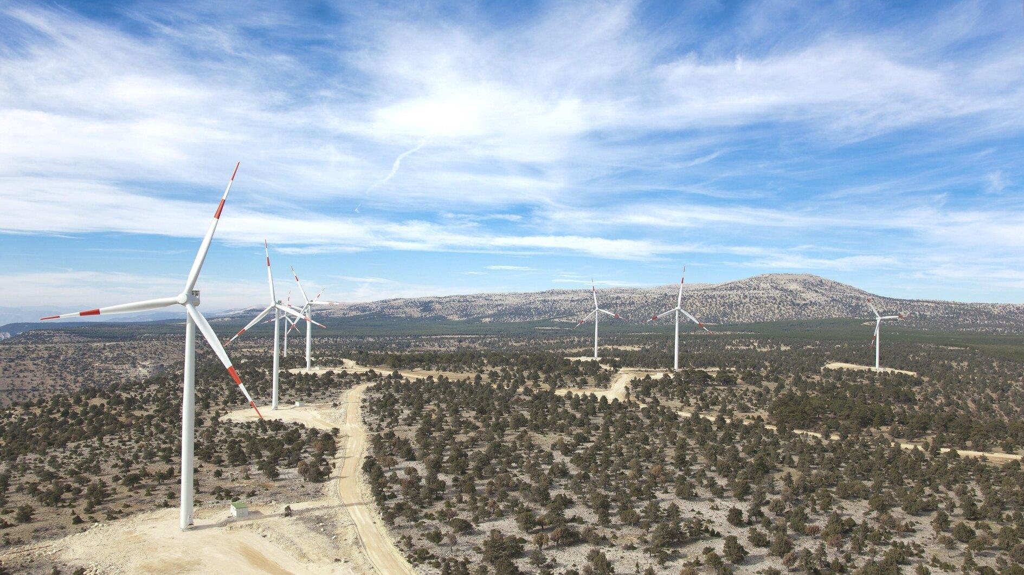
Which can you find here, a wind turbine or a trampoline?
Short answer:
wind turbine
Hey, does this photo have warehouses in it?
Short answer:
No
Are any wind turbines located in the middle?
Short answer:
Yes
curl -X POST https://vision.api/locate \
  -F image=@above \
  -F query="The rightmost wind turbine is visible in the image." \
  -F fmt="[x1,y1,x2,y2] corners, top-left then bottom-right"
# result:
[864,294,903,366]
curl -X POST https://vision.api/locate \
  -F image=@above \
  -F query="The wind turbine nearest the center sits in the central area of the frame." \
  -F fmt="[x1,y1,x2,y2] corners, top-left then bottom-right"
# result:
[576,281,625,357]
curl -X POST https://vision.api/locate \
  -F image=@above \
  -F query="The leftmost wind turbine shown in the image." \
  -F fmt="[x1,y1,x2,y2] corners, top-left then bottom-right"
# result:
[41,162,261,532]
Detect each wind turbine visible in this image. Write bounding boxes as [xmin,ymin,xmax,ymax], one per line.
[285,266,343,371]
[864,294,903,366]
[41,162,261,532]
[644,269,709,371]
[576,281,625,357]
[283,289,323,356]
[226,239,324,409]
